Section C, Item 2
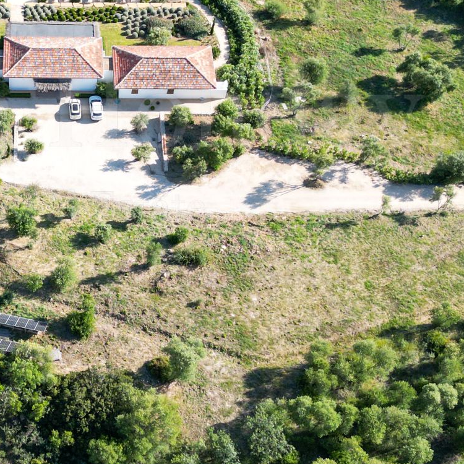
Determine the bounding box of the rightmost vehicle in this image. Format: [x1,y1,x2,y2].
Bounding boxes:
[88,97,103,122]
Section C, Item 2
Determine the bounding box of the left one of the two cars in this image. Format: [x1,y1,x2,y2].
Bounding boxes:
[67,100,82,122]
